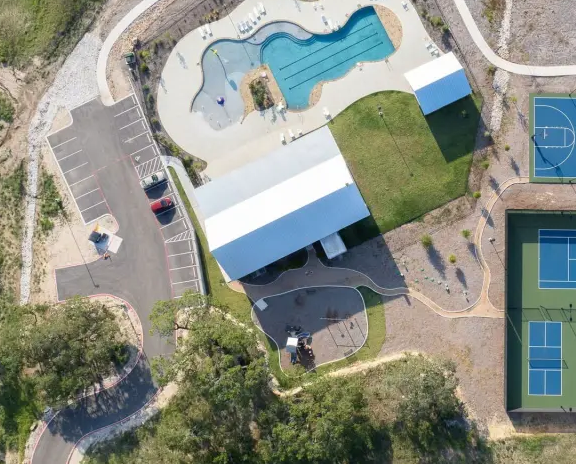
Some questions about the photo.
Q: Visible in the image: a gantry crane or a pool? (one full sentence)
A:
The image shows a pool.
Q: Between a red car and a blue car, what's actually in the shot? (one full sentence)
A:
Of the two, only a red car appears.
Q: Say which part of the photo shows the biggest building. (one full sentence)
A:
The biggest building is located in the center region of the scene.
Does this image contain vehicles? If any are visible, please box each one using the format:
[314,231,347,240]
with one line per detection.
[147,195,174,213]
[137,171,166,190]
